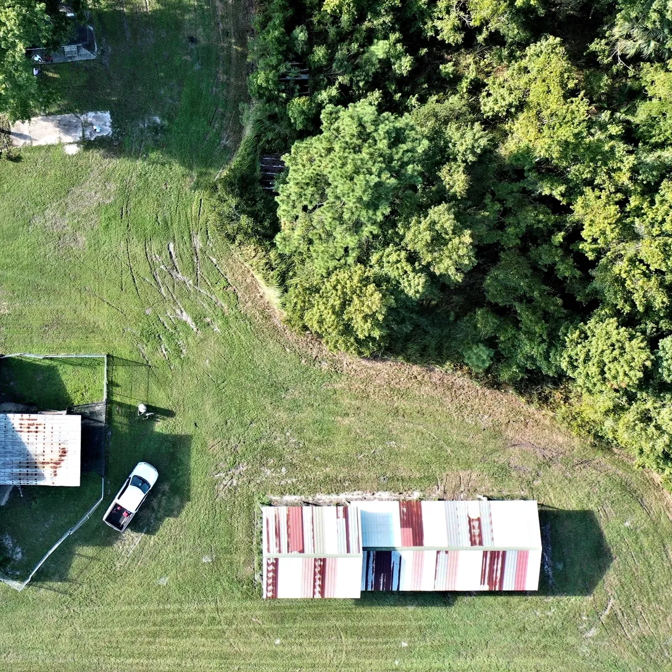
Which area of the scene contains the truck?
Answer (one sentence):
The truck appears toward the bottom left of the photo.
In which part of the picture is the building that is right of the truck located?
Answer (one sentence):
The building that is right of the truck is located in the bottom region of the scene.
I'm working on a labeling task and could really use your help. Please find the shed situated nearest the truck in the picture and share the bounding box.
[0,409,83,485]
